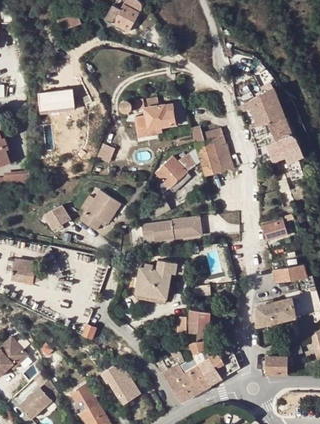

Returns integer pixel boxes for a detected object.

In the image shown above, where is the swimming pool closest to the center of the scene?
[132,148,155,166]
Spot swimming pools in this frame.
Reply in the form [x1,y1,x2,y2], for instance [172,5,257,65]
[38,416,56,424]
[198,245,233,284]
[132,148,155,166]
[44,124,55,152]
[23,364,39,382]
